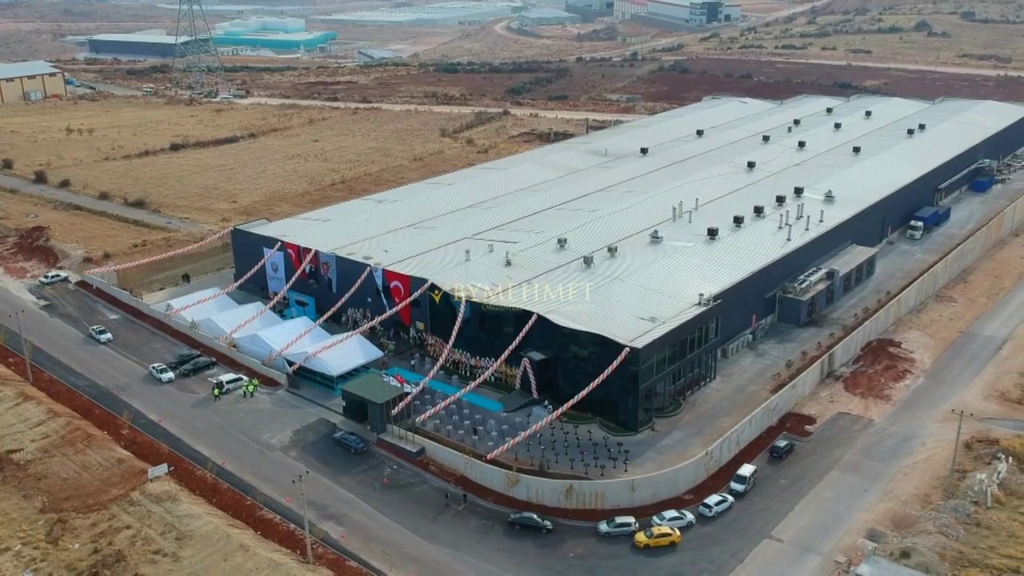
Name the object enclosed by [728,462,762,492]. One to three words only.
vehicle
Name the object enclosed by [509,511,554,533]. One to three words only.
car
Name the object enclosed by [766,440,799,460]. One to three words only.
car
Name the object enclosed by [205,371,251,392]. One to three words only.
vehicle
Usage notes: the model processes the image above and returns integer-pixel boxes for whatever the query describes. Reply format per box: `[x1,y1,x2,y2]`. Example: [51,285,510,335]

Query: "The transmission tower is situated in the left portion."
[158,0,238,94]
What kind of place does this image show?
industrial area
